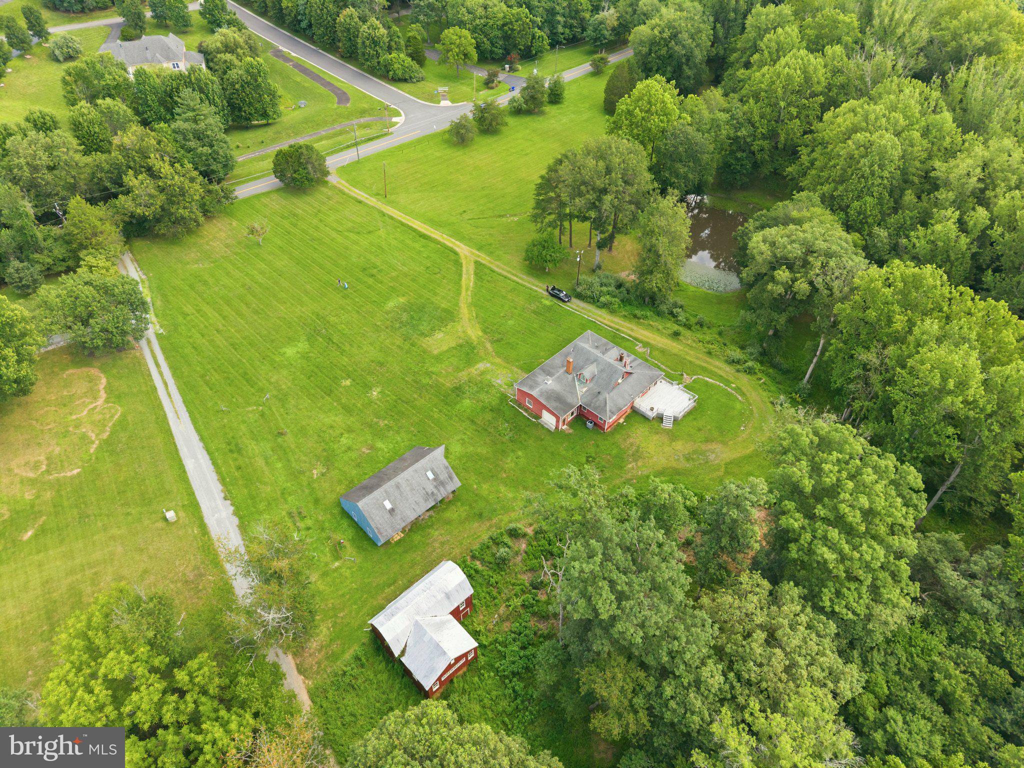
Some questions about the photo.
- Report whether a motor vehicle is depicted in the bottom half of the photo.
No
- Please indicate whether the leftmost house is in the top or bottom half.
top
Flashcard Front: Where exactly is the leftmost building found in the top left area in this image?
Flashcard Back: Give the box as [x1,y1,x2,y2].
[102,33,209,80]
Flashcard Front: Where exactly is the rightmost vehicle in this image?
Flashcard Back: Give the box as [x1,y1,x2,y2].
[544,282,574,306]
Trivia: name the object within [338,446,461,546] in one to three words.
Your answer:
barn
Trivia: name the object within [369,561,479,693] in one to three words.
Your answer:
barn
